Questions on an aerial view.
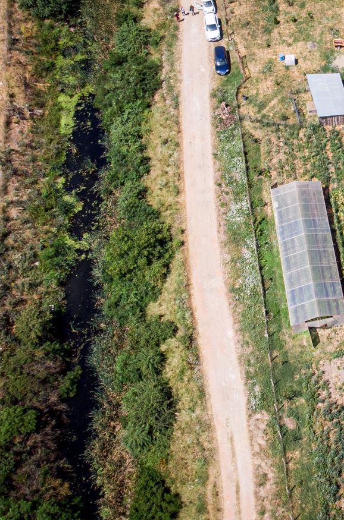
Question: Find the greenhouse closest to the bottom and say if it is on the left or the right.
right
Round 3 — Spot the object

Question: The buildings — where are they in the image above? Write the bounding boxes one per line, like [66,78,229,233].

[306,73,344,125]
[269,180,344,345]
